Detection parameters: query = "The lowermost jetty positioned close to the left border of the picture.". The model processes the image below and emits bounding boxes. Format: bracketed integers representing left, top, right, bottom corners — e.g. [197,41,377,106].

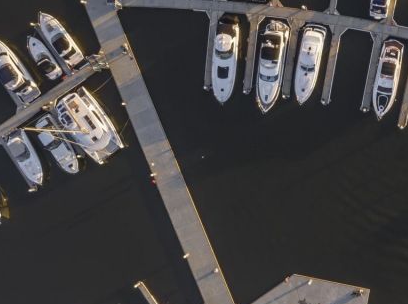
[0,23,95,188]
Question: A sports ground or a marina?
marina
